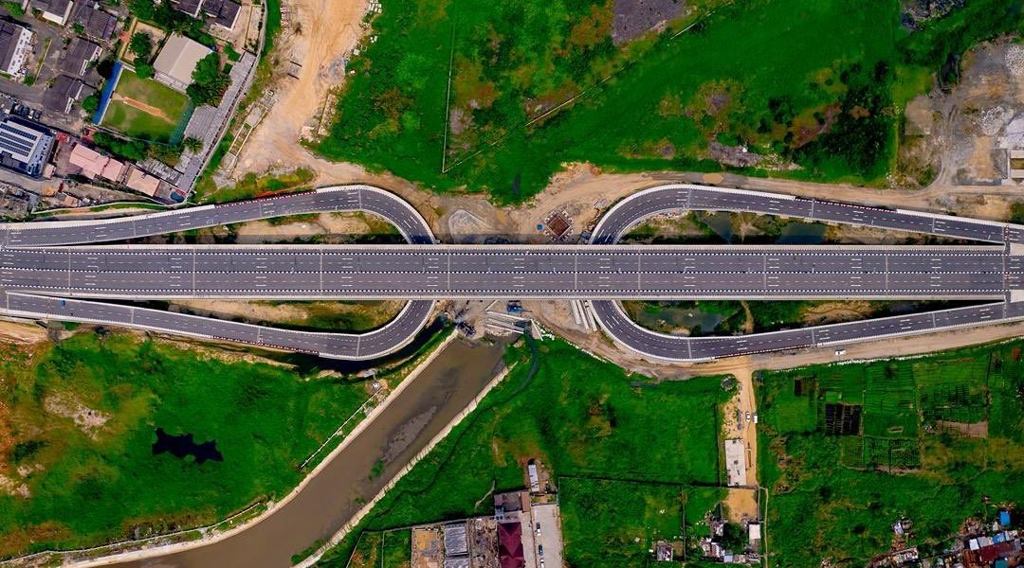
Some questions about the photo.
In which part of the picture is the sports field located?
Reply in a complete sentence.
You can find the sports field in the top left area of the picture.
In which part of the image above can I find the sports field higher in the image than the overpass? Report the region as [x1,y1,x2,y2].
[104,69,194,143]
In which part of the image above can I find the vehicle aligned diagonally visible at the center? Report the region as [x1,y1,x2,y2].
[454,314,474,337]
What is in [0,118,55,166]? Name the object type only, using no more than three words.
building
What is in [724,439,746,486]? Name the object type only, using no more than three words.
building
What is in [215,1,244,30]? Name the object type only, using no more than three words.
house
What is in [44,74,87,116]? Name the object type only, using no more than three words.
house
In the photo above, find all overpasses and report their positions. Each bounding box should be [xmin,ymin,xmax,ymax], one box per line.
[0,224,1024,321]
